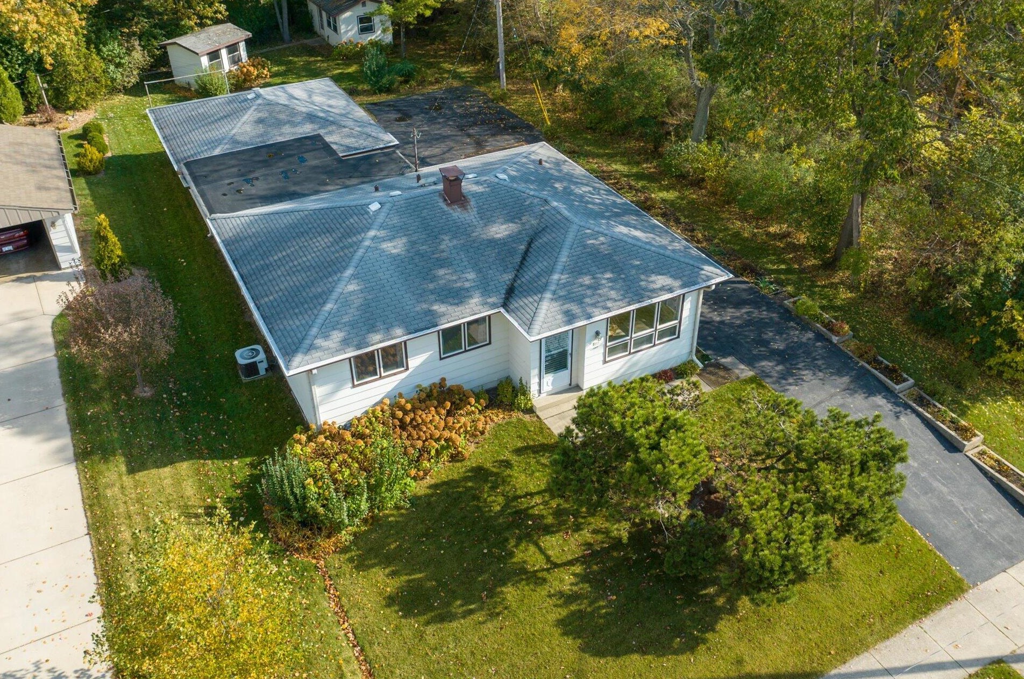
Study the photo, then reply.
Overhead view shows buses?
No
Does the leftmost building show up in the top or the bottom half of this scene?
top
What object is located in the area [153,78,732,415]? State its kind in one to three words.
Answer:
house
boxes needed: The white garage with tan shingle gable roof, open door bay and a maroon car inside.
[0,123,83,283]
